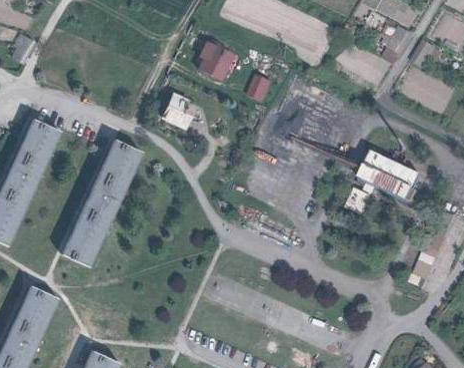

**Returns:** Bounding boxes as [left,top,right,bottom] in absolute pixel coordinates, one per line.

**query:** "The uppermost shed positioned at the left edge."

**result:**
[11,34,35,65]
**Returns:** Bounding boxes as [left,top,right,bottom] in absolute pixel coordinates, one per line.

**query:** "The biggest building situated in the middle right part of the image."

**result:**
[356,150,418,201]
